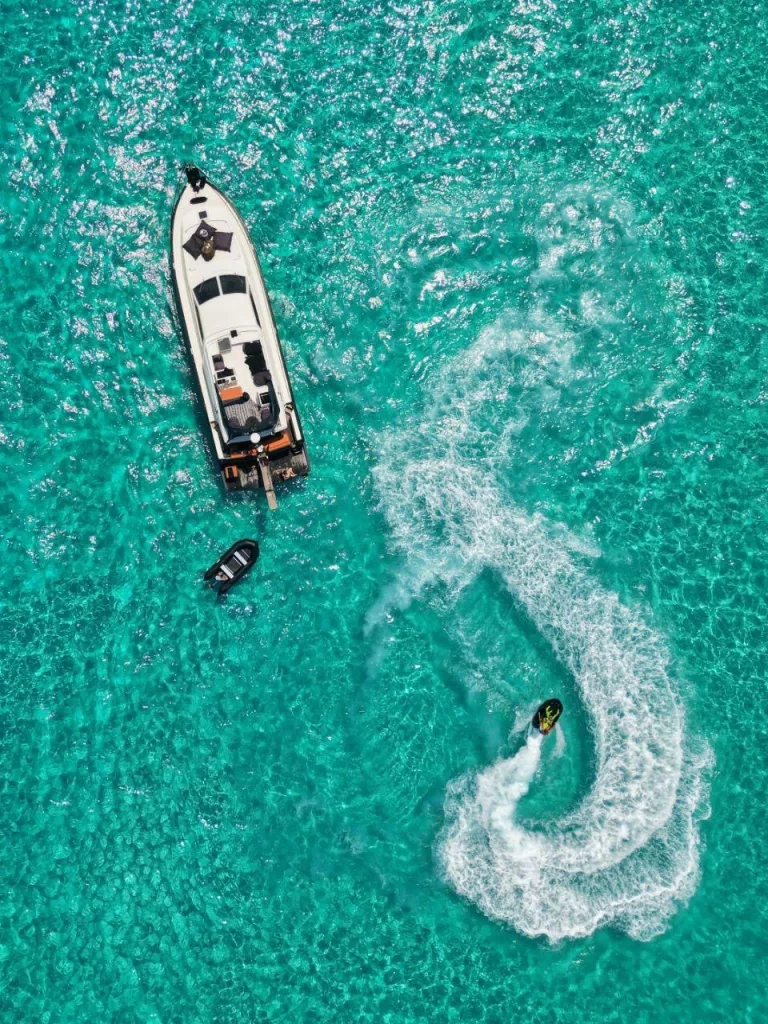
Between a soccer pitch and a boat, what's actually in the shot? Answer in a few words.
boat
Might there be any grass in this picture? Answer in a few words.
No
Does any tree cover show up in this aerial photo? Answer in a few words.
No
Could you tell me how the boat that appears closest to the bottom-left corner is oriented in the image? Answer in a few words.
diagonally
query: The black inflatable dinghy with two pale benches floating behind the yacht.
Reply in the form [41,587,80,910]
[204,540,258,594]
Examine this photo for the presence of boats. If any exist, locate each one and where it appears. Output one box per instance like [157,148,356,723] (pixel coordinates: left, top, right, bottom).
[533,698,561,738]
[171,160,309,509]
[204,540,258,594]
